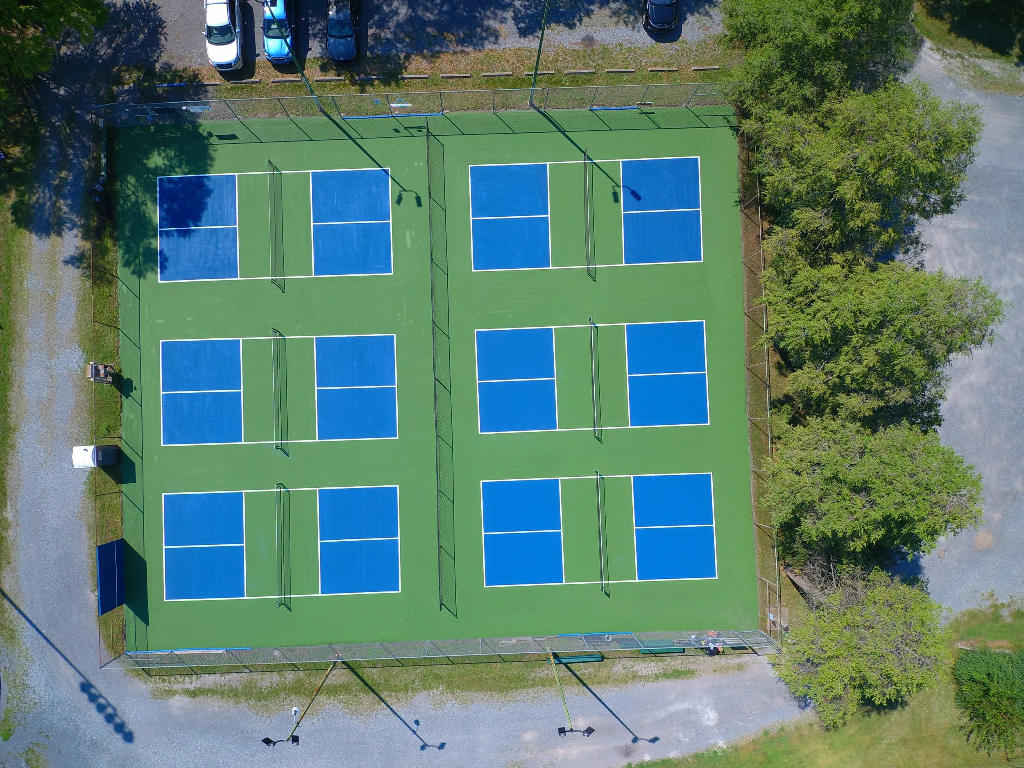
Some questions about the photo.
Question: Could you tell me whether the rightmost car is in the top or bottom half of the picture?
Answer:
top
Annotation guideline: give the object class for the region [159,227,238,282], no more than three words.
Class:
sports court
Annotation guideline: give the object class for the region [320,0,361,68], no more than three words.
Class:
car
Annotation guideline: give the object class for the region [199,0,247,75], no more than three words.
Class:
car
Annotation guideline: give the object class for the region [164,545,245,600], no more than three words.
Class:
sports court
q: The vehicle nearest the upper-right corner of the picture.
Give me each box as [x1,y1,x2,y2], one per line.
[638,0,675,37]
